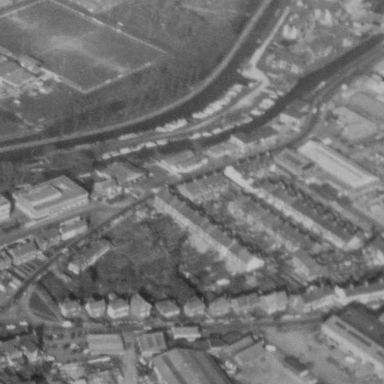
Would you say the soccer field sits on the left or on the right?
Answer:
left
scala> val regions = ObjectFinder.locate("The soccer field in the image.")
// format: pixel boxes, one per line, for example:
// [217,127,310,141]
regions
[0,0,162,91]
